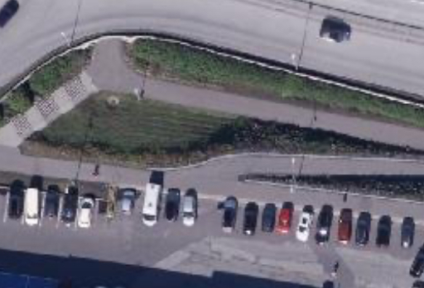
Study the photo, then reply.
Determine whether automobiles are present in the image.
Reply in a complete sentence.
Yes, there's an automobile here.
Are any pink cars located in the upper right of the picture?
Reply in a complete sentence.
No, I see no pink car in the upper right of the picture.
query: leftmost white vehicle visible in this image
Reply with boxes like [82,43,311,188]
[24,189,39,226]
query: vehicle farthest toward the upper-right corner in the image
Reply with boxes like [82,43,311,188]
[318,23,350,42]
